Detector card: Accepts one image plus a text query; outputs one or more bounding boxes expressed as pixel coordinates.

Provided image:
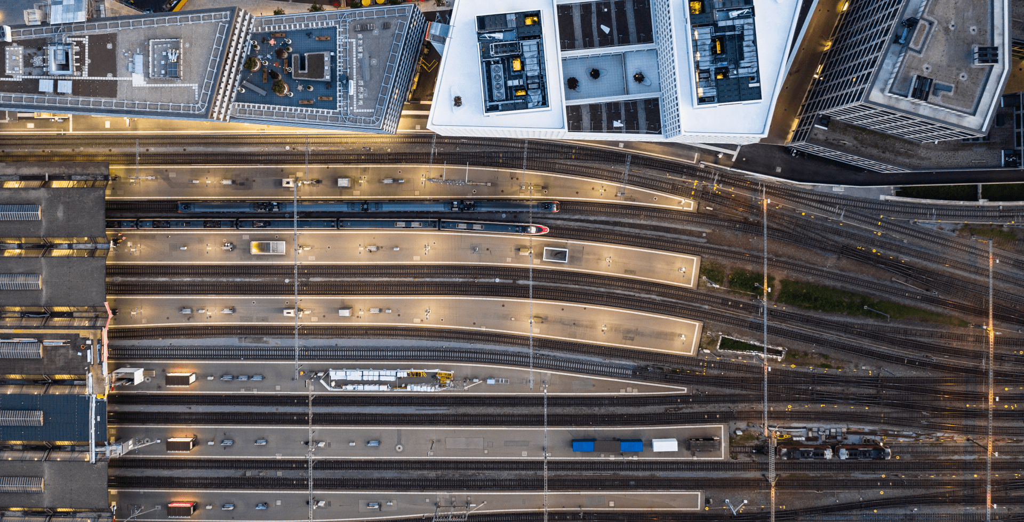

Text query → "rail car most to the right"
[831,445,889,459]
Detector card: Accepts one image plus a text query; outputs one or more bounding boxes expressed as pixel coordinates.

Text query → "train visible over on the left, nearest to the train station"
[106,218,549,235]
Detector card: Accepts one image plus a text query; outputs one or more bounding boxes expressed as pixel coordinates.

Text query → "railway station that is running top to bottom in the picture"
[0,162,111,522]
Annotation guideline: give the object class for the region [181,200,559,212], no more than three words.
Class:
train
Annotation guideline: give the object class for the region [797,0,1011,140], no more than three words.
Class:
building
